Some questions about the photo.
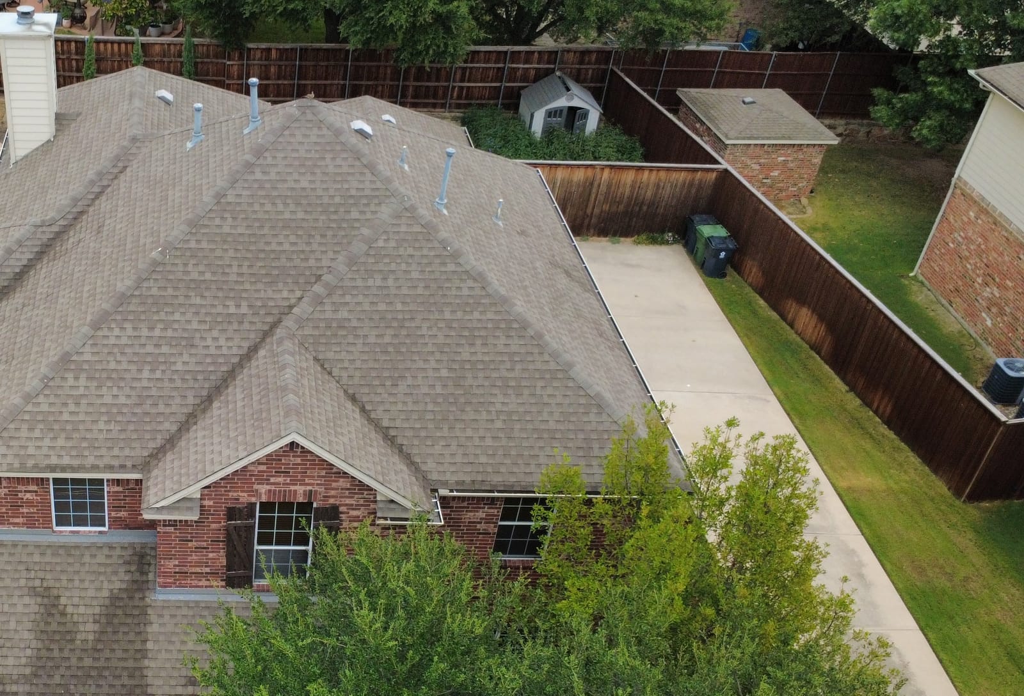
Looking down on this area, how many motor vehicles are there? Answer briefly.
none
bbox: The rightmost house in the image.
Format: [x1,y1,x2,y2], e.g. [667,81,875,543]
[903,60,1024,362]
